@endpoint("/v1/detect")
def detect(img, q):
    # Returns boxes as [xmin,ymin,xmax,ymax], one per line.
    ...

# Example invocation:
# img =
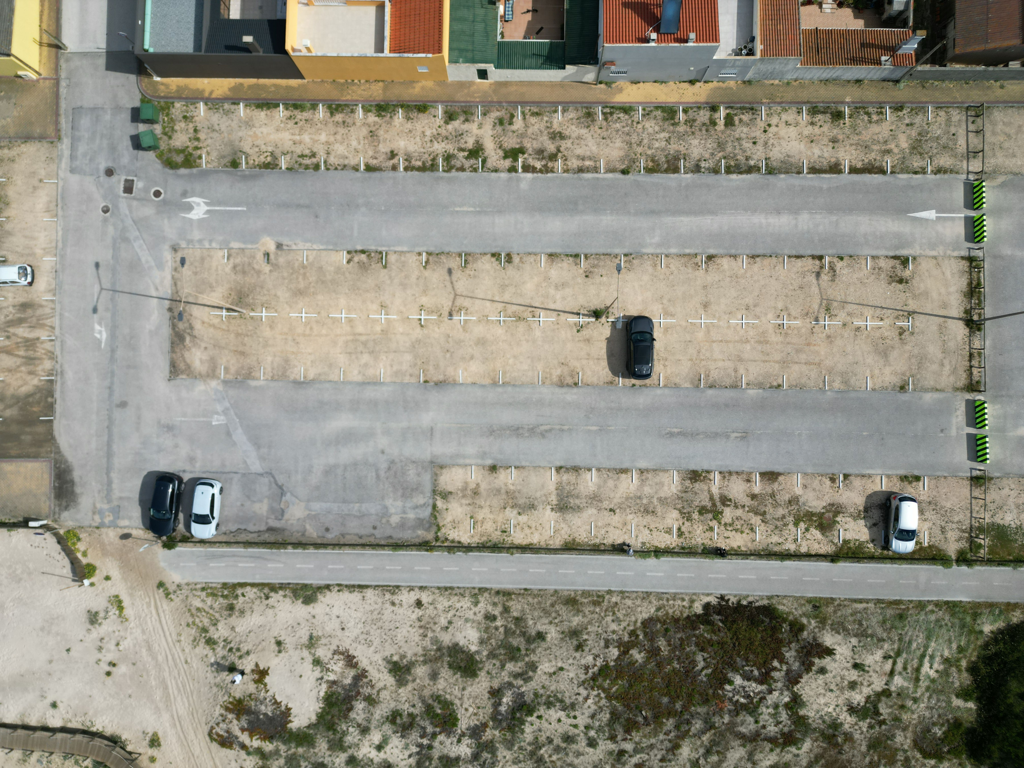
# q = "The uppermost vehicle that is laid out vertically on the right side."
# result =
[625,316,657,381]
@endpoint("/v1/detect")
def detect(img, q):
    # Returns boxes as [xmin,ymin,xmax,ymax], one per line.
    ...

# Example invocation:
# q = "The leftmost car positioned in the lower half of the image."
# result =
[147,473,186,536]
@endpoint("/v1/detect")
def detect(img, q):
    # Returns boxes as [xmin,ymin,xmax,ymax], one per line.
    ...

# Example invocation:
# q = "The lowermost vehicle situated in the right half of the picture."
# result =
[885,492,922,553]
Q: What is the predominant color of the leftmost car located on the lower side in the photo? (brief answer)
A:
black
